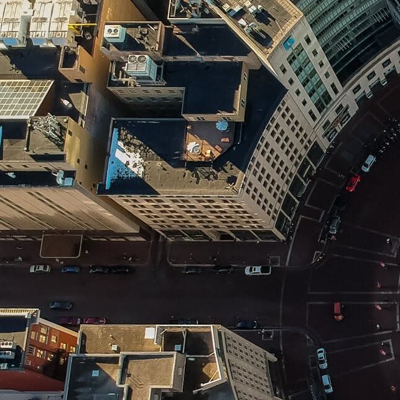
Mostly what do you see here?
buildings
